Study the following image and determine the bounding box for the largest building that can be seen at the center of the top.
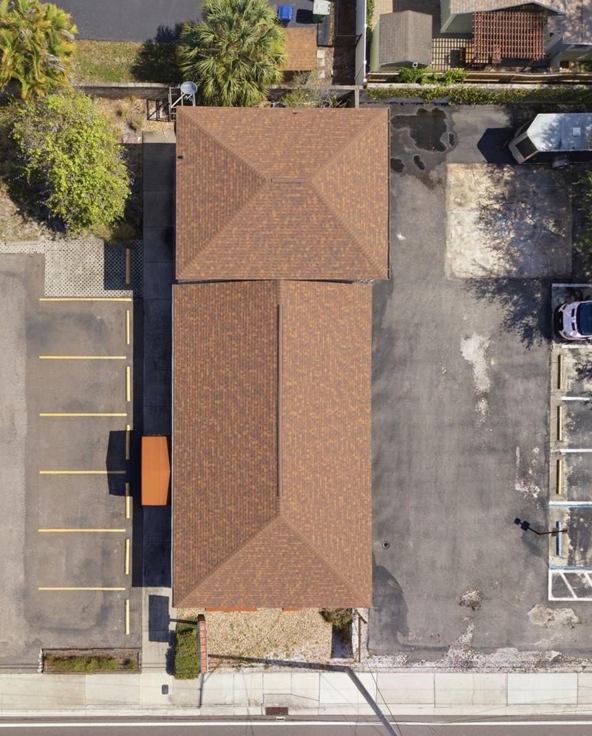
[173,104,392,283]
